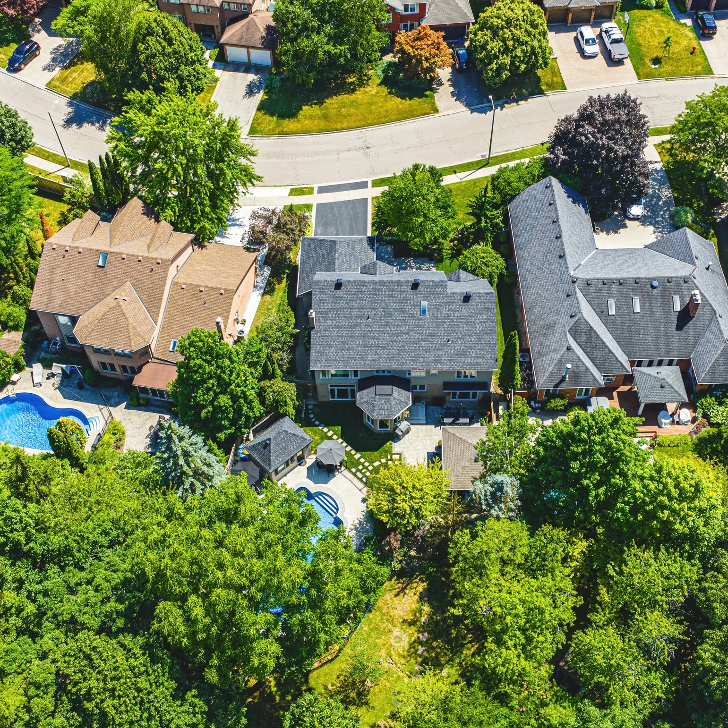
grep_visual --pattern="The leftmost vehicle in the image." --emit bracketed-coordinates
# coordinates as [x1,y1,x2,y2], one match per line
[1,36,44,68]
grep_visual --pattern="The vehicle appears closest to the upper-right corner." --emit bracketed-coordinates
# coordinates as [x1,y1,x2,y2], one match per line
[693,8,719,33]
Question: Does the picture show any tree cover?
Yes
